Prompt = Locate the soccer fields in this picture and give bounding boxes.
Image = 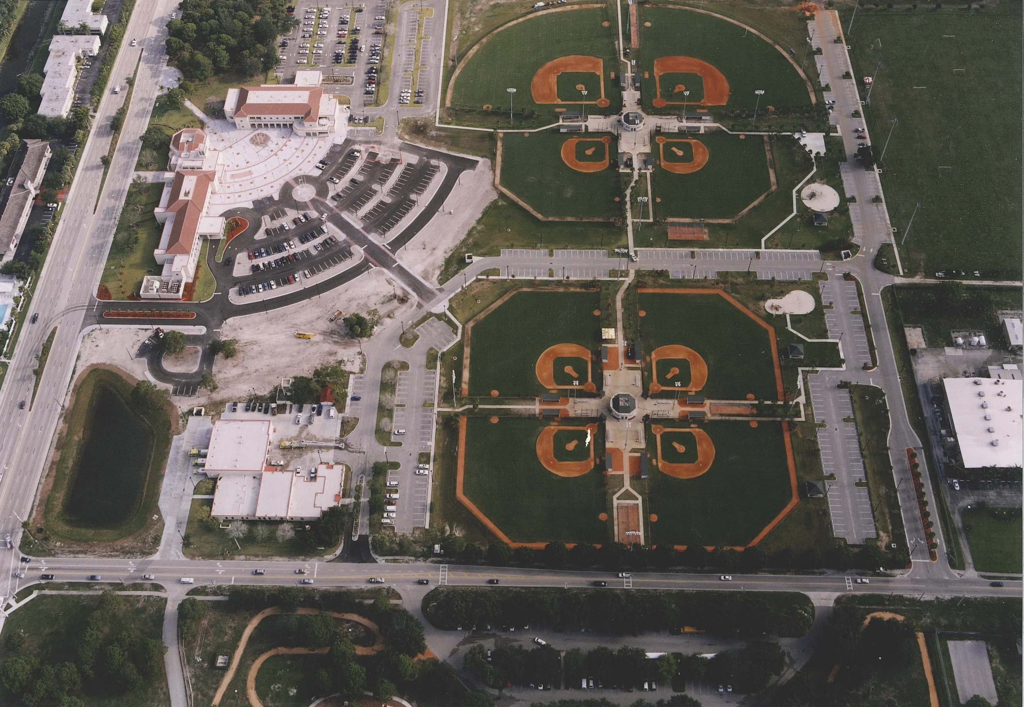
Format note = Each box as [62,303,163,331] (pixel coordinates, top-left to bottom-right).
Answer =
[855,14,1024,274]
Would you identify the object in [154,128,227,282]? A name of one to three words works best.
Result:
building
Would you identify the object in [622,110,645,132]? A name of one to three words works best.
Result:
building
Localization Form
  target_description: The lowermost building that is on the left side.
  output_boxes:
[205,420,345,521]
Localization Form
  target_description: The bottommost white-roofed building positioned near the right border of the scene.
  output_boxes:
[938,378,1024,477]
